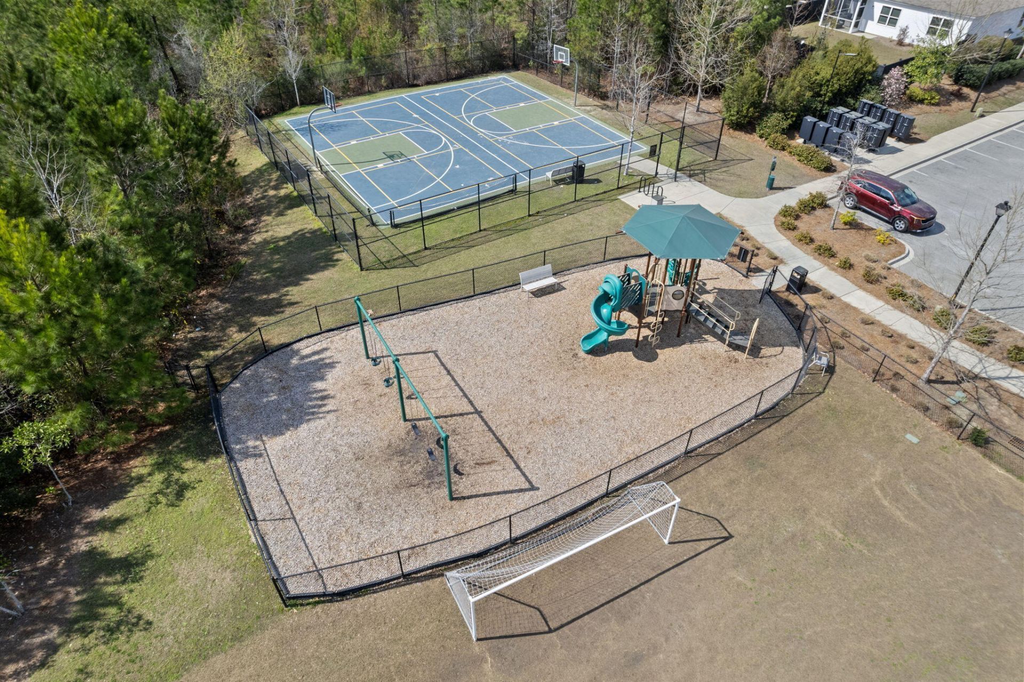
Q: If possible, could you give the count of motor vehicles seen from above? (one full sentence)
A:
There is 1 motor vehicle in the image.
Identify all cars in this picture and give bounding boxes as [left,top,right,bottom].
[837,166,941,232]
